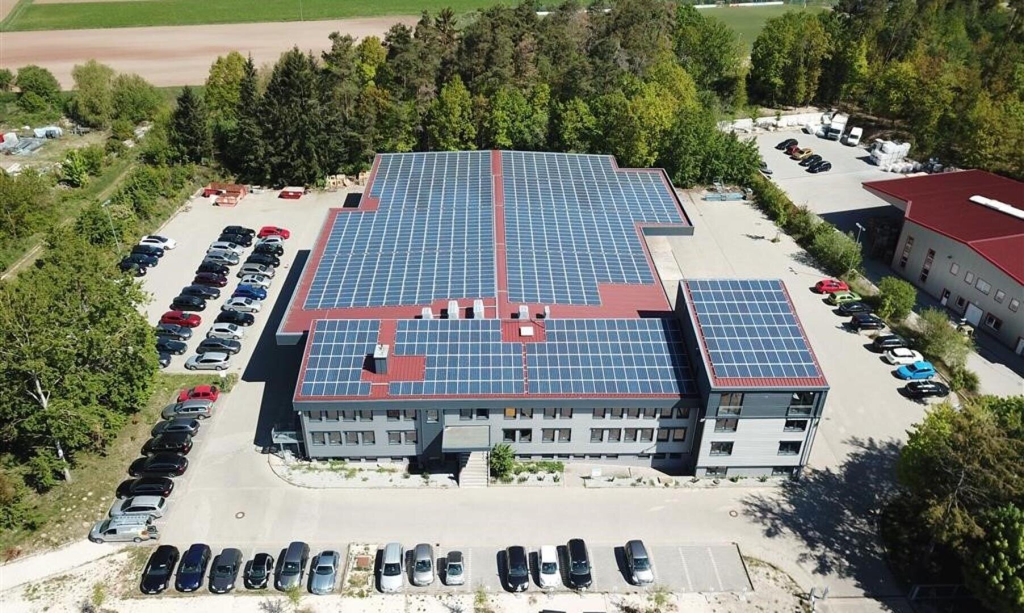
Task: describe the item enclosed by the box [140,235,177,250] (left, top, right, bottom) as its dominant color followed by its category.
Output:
white car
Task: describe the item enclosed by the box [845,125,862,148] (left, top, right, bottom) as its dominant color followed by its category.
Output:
white vehicle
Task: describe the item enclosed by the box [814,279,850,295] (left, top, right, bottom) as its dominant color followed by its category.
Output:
red car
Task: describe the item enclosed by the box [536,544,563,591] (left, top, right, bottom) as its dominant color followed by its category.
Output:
white car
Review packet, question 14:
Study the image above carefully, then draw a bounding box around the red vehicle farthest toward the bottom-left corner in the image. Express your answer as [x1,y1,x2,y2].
[177,383,221,403]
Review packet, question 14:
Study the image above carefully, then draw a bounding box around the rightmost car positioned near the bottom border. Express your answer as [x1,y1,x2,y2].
[623,536,657,590]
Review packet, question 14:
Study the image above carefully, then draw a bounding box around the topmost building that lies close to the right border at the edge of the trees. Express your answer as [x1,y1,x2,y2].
[860,157,1024,353]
